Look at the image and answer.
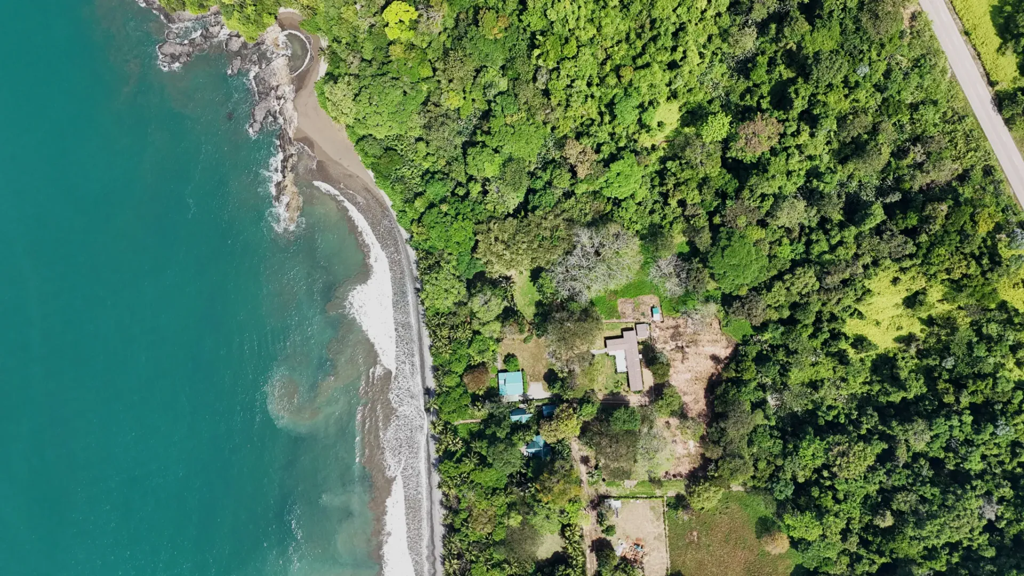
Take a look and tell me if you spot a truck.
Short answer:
No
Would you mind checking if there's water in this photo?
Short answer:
Yes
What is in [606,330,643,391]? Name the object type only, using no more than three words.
house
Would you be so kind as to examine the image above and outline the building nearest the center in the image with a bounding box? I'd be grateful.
[498,372,523,402]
